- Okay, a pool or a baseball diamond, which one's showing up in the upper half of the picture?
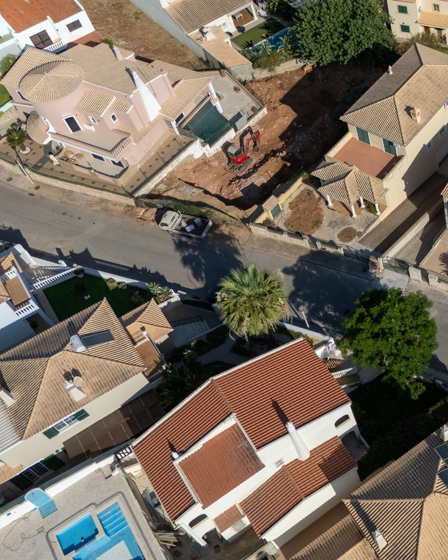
pool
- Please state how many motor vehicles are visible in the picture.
3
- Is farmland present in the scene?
No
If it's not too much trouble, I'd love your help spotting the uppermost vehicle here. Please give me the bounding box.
[226,141,261,179]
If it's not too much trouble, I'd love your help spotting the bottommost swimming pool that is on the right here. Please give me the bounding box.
[247,27,300,57]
